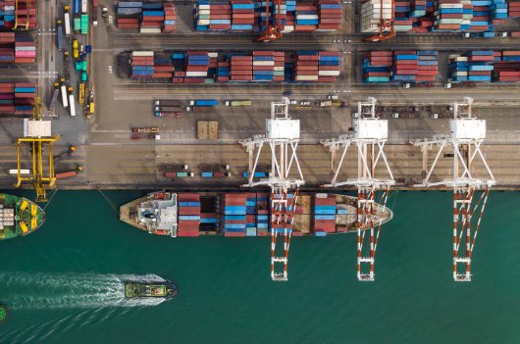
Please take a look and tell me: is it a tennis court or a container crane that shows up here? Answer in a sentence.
I can see a container crane in this picture.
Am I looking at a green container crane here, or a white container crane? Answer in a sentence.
The one in the frame is a white container crane.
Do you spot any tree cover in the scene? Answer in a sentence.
No, tree cover can't be seen anywhere here.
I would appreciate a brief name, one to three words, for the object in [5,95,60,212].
container crane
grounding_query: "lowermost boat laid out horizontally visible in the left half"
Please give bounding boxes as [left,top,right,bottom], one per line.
[124,282,178,299]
